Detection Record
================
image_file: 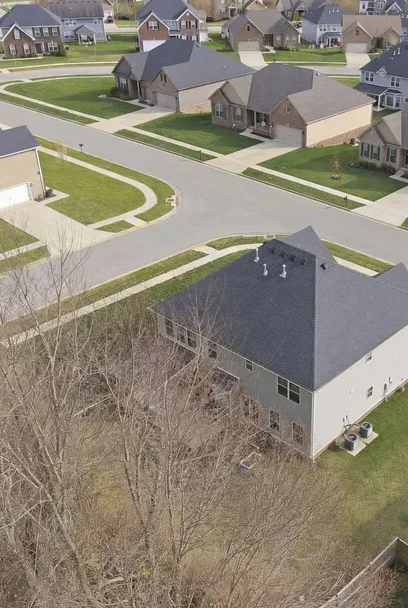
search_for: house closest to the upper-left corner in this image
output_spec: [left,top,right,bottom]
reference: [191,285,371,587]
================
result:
[0,1,63,58]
